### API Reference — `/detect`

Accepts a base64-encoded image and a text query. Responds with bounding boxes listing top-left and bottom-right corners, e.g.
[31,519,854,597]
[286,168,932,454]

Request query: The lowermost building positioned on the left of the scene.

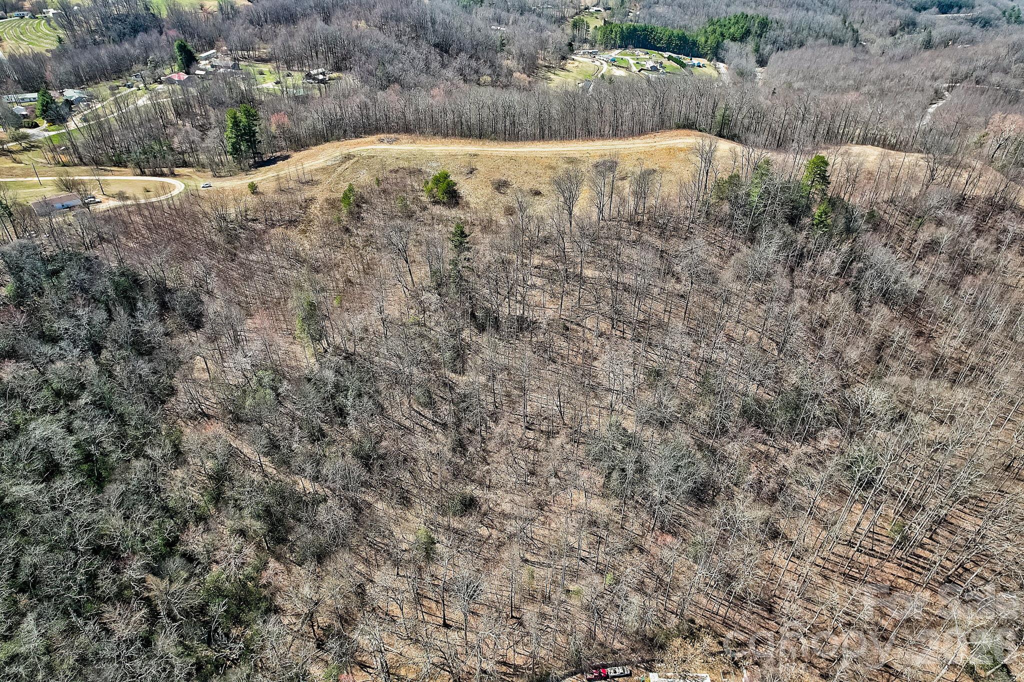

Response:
[26,189,83,215]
